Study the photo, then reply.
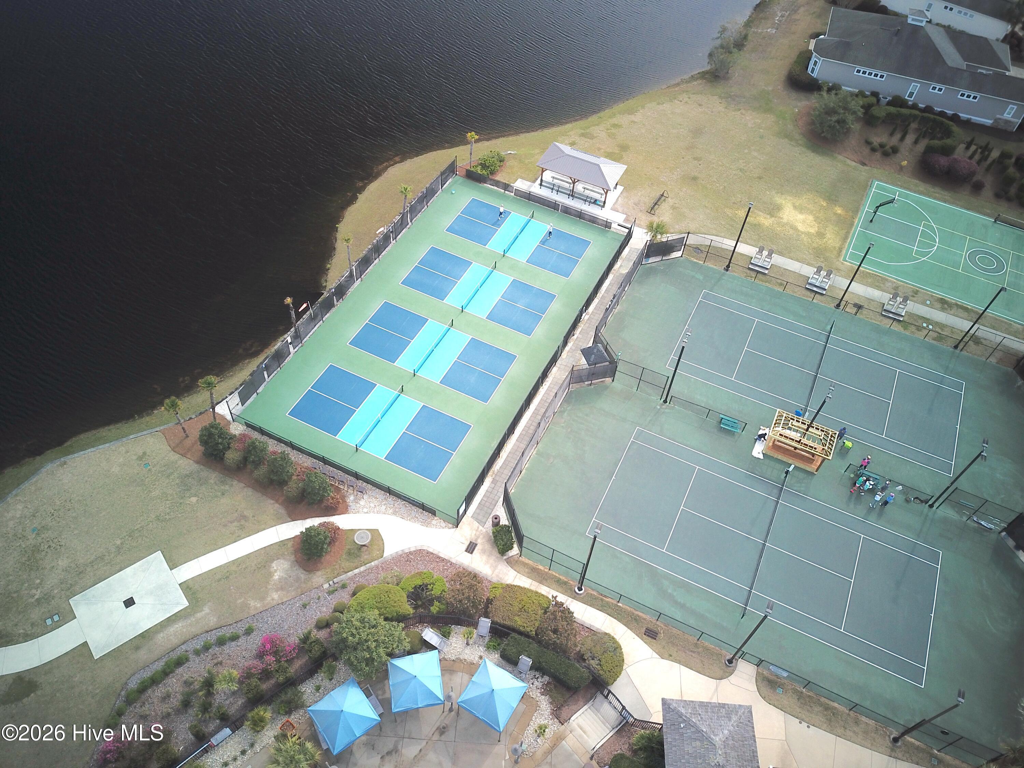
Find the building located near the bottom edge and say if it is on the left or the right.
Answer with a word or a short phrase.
right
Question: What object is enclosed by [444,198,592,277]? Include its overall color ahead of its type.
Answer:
blue sports court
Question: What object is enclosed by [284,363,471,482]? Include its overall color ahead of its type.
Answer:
blue sports court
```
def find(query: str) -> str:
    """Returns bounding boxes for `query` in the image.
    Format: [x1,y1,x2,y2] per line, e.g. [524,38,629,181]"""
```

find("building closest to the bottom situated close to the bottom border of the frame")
[660,696,761,768]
